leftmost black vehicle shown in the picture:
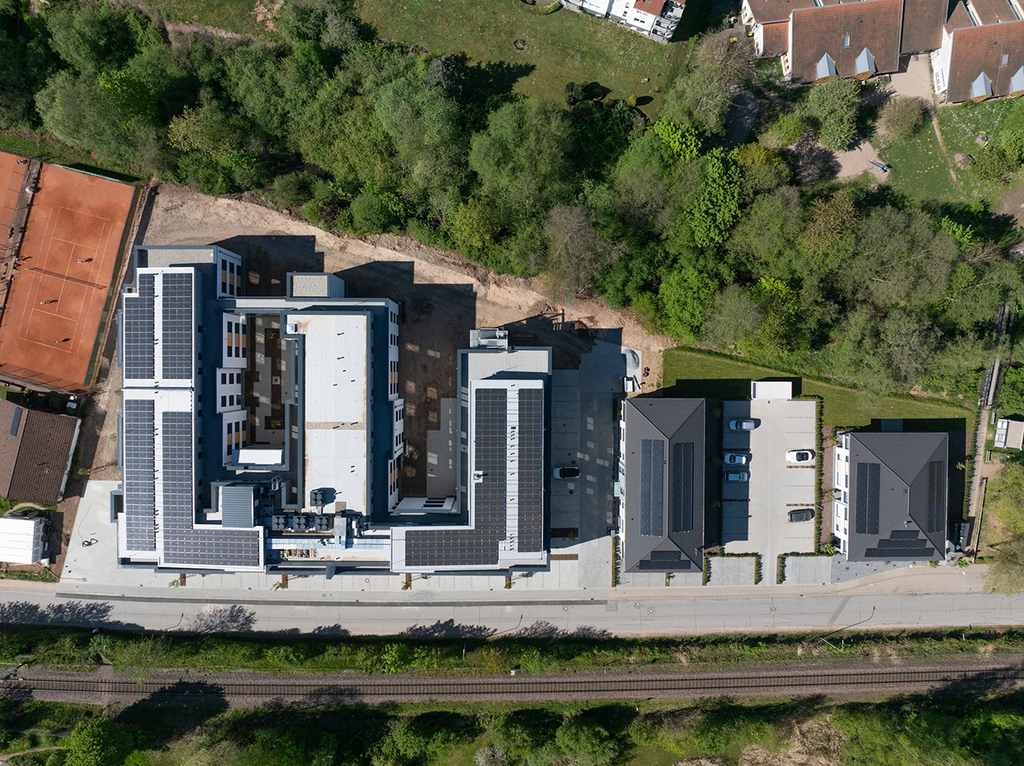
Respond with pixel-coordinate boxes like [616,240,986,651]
[553,466,581,480]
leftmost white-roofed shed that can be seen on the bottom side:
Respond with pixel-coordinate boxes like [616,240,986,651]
[0,512,49,564]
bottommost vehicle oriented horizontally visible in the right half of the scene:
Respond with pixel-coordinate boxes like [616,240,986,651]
[785,507,815,522]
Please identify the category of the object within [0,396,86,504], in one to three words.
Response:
house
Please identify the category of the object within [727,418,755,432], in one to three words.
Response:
car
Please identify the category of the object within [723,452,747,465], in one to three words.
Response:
vehicle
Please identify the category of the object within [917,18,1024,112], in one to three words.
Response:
building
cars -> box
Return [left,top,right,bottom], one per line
[785,507,815,522]
[727,418,755,432]
[723,452,747,465]
[553,466,581,480]
[784,449,813,463]
[723,470,749,484]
